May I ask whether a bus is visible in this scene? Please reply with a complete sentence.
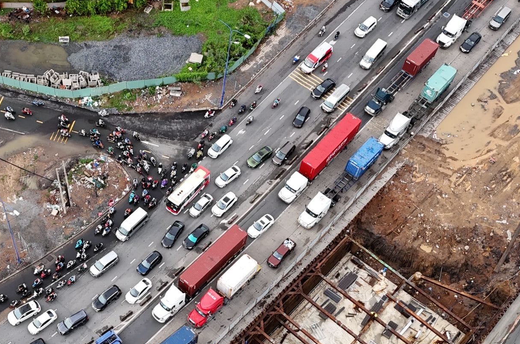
Yes, the photo shows a bus.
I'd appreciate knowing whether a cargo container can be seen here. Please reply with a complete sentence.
Yes, the frame does contain a cargo container.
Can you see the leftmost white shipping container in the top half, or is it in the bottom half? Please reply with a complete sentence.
You can find the leftmost white shipping container in the bottom half.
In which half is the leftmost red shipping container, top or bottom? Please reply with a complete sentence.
It is in the bottom half that the leftmost red shipping container appears.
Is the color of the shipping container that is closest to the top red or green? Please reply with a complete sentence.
The color of the shipping container that is closest to the top is red.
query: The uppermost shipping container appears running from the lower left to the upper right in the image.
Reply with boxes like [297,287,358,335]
[400,38,439,79]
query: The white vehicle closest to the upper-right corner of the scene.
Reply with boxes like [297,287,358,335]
[432,12,469,48]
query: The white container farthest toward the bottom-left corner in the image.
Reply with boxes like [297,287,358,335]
[215,251,261,300]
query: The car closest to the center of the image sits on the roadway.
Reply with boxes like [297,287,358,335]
[247,144,276,170]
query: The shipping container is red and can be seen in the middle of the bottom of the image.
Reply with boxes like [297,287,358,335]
[177,222,250,300]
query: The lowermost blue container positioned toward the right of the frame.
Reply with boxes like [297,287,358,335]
[342,134,386,179]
